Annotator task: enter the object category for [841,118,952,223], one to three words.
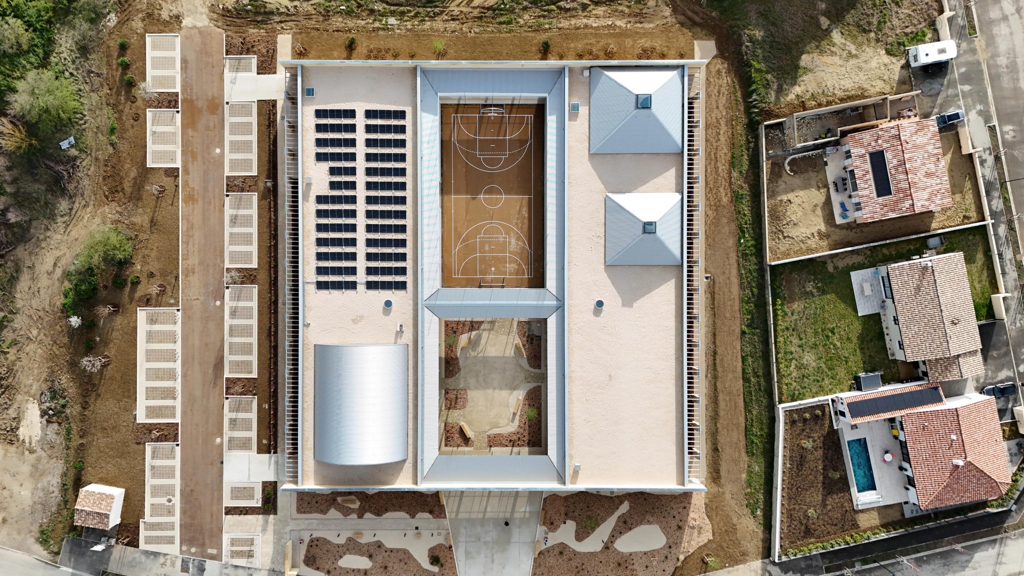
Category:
house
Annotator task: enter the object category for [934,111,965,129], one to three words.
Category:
car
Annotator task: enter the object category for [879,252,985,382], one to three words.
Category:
house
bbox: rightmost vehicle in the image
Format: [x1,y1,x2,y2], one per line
[982,382,1015,399]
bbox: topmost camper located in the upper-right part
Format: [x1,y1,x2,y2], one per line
[902,46,957,72]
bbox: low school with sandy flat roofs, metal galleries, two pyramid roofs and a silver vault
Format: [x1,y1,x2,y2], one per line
[280,60,707,491]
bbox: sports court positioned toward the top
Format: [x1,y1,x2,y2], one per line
[441,104,544,287]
